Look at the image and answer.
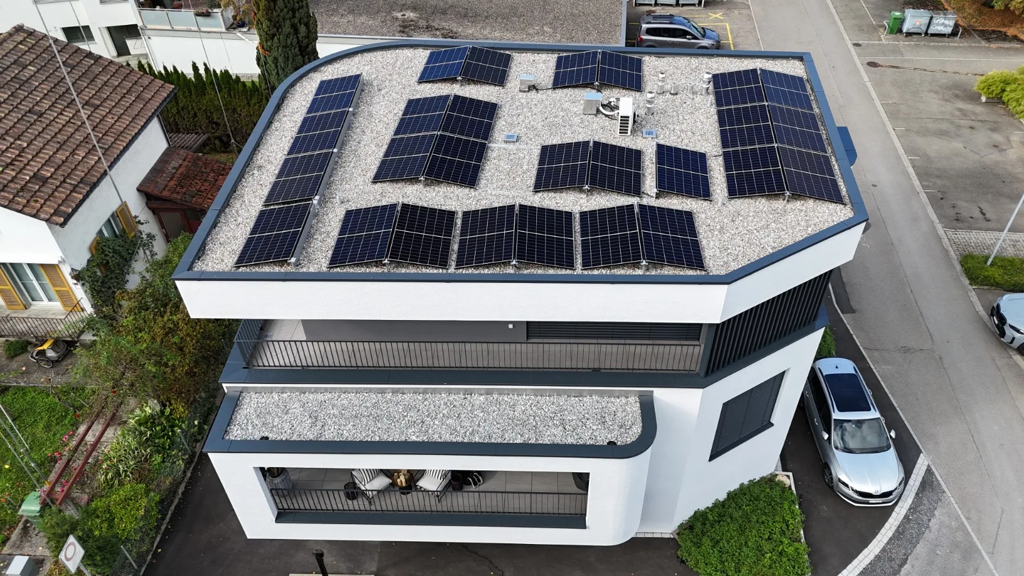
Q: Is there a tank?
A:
No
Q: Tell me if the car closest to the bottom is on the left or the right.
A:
right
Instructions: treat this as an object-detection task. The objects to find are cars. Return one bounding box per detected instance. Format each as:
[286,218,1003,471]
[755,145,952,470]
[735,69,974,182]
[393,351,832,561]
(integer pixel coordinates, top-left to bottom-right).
[985,292,1024,351]
[800,358,902,506]
[634,13,720,51]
